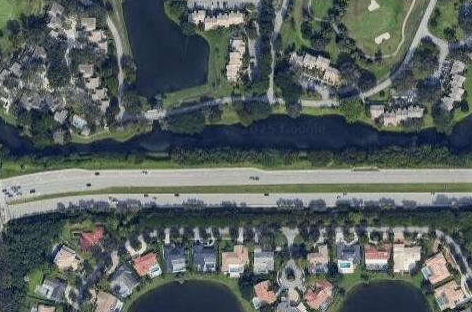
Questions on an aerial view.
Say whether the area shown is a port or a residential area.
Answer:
residential area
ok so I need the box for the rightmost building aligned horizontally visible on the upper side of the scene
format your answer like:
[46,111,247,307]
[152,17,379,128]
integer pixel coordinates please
[370,103,423,127]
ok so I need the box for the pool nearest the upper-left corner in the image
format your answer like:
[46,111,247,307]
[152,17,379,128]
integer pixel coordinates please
[70,113,88,129]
